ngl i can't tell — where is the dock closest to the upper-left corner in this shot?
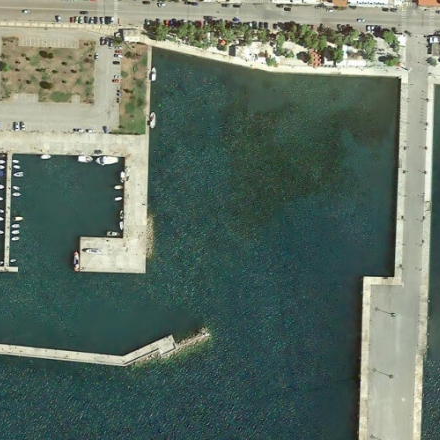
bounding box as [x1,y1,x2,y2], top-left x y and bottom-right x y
[0,154,18,272]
